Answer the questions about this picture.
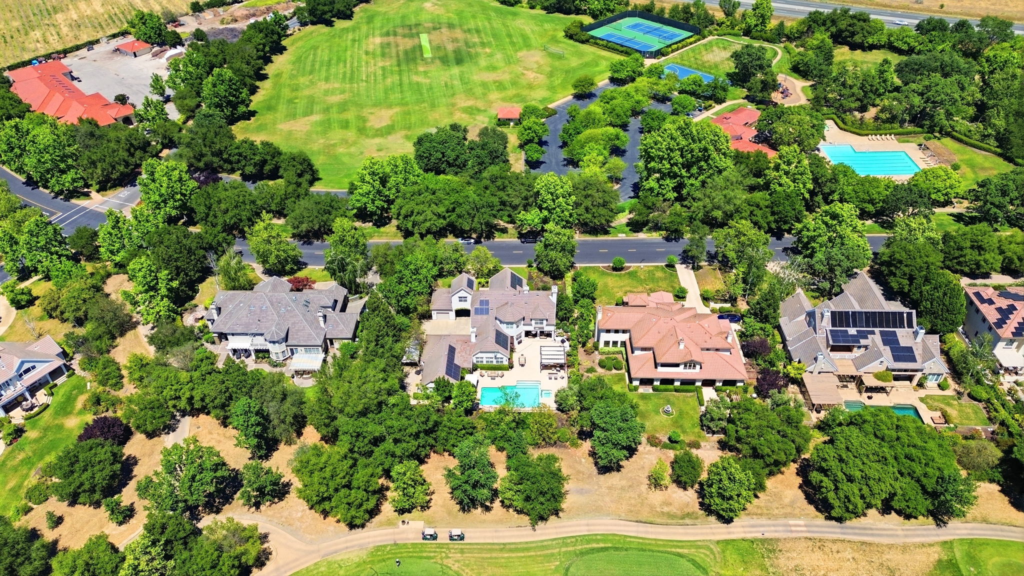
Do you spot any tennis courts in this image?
Yes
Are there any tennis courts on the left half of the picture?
No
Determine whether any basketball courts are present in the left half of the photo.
No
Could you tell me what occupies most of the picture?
trees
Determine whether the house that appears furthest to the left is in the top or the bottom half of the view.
bottom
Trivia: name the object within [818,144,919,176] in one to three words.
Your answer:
swimming pool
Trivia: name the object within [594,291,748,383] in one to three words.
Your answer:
house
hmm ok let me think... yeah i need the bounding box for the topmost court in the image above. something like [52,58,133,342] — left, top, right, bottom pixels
[589,17,693,60]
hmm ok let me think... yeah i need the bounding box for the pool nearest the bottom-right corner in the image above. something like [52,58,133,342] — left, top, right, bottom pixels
[843,399,924,423]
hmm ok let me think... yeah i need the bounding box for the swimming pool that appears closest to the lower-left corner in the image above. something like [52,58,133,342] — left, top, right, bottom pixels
[478,379,542,408]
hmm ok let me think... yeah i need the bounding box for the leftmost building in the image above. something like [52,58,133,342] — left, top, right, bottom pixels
[0,334,69,420]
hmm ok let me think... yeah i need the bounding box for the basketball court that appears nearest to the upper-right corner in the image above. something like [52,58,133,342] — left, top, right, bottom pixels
[658,60,727,88]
